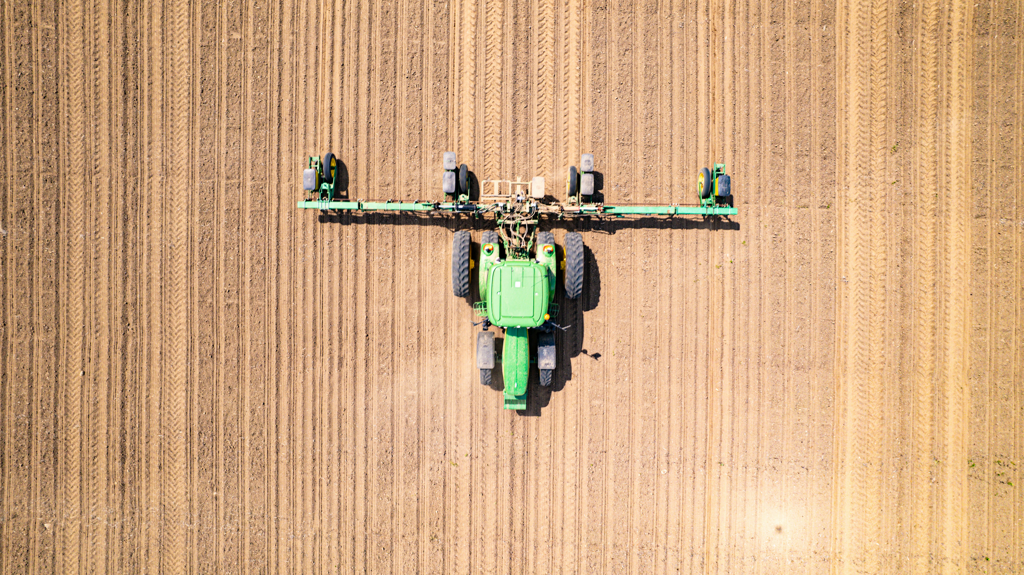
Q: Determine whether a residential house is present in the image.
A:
No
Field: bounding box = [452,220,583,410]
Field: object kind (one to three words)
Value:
work vehicle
